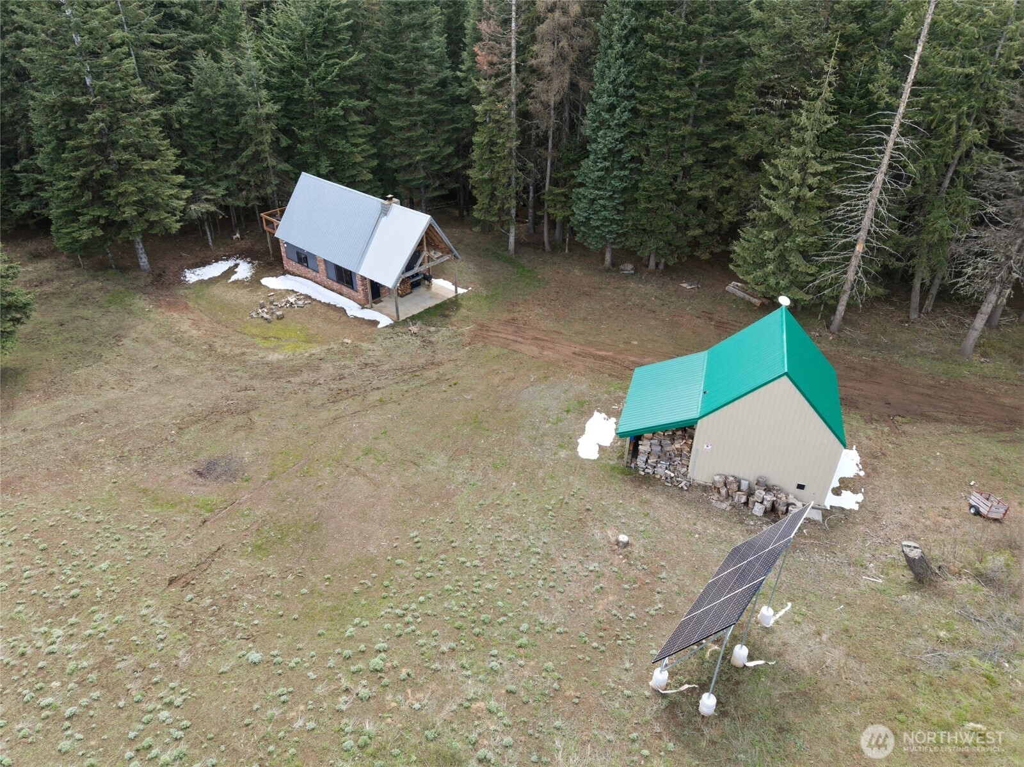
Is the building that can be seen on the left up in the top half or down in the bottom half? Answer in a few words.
top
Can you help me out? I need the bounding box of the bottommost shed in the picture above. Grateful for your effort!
[616,304,848,519]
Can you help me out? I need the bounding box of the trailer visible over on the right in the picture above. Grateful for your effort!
[957,489,1013,522]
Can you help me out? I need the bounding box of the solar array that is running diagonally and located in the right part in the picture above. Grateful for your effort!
[651,501,814,719]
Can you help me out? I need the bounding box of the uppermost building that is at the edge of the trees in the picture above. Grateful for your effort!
[261,171,462,324]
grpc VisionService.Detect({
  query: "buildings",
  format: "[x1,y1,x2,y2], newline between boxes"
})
[616,304,848,519]
[261,171,462,324]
